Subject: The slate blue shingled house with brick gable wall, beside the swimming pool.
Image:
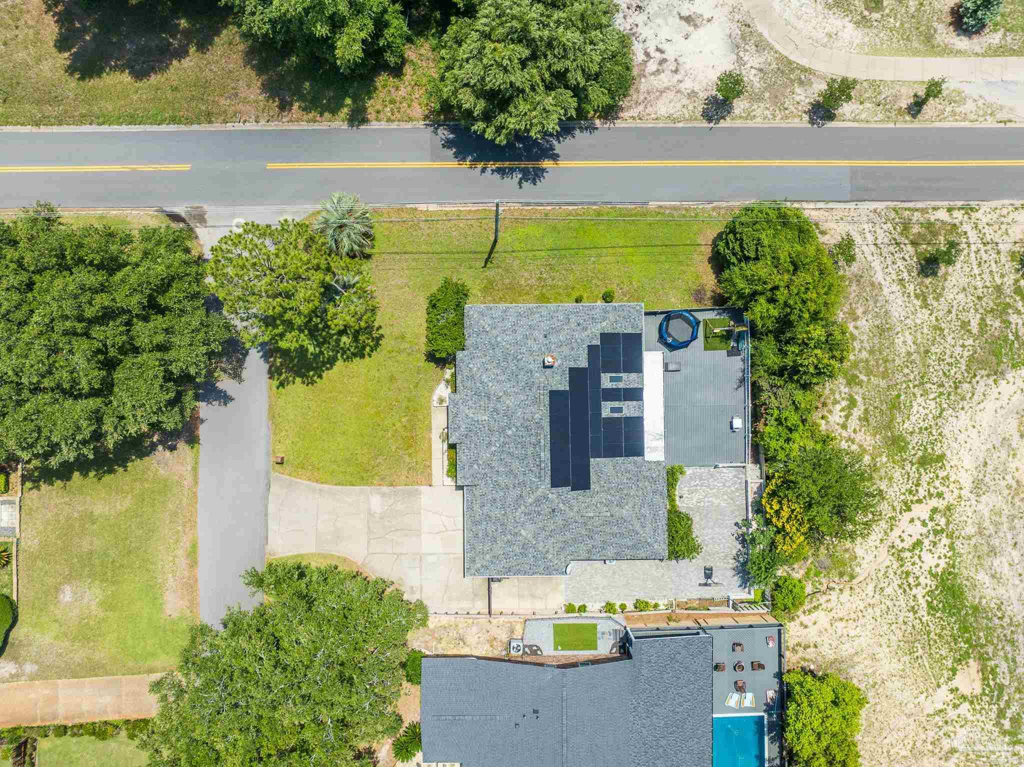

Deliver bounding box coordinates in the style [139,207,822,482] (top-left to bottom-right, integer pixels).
[418,633,713,767]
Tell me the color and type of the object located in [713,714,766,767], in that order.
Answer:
blue swimming pool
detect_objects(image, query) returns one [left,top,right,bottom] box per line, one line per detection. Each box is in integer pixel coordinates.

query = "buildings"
[449,303,668,577]
[418,633,713,767]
